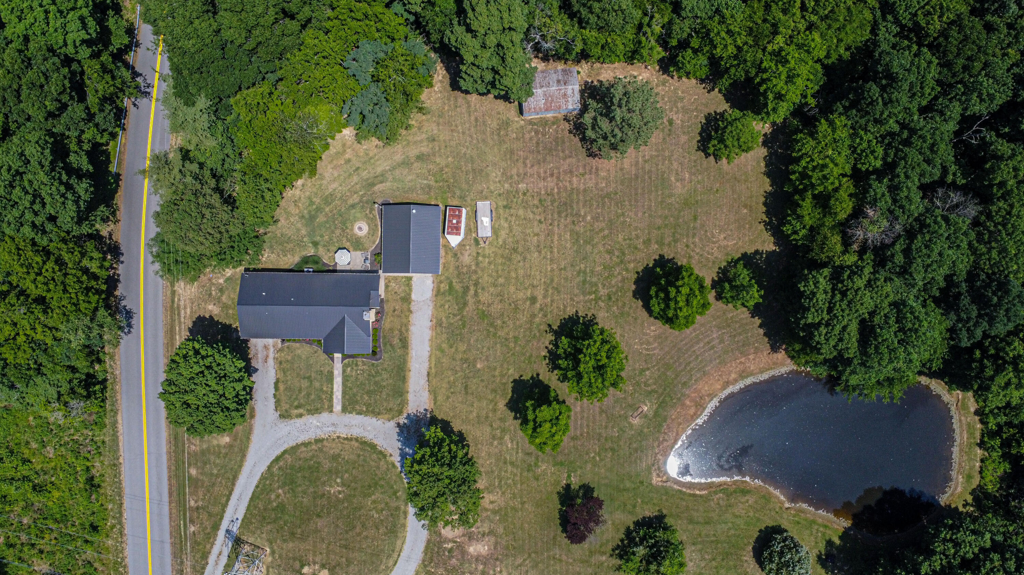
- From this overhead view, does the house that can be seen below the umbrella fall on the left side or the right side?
left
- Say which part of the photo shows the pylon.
bottom left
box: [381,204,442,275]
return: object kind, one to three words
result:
building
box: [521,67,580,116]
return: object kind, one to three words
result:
shed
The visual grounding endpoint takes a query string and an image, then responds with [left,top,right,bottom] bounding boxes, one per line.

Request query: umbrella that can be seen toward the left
[335,248,351,264]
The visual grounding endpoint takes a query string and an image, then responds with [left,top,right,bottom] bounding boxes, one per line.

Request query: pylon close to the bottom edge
[219,547,267,575]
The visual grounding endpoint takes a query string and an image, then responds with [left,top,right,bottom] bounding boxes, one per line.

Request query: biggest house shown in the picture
[236,272,381,355]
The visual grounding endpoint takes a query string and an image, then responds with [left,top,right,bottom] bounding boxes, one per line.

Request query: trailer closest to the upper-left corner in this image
[445,205,465,252]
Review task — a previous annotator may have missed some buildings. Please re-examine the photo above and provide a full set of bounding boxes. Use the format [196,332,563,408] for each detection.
[236,272,381,355]
[381,204,442,275]
[521,67,580,116]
